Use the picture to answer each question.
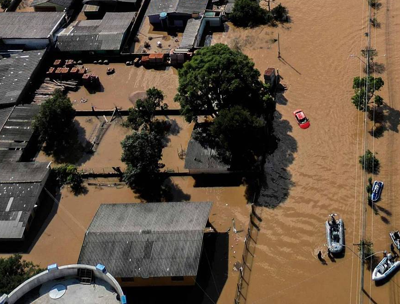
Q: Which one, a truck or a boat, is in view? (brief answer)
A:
boat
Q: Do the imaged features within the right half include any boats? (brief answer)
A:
Yes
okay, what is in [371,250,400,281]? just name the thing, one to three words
boat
